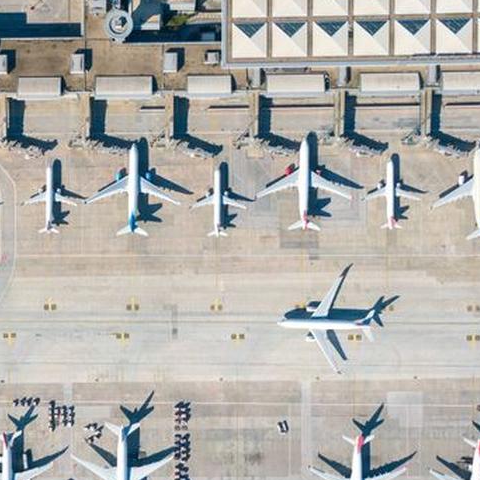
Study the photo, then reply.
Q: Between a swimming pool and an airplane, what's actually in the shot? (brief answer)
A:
airplane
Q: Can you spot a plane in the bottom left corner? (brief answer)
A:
Yes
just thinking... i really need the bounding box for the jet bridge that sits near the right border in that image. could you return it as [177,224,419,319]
[421,140,474,166]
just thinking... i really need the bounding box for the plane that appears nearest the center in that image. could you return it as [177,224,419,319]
[189,168,246,236]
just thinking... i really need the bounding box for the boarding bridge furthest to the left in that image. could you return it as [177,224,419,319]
[0,142,46,167]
